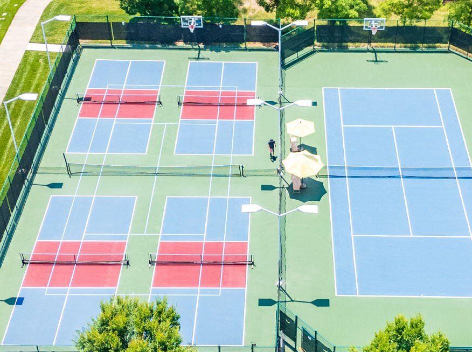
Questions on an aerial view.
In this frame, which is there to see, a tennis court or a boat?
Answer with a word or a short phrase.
tennis court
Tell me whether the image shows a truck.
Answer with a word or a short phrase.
No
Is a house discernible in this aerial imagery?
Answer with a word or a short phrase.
No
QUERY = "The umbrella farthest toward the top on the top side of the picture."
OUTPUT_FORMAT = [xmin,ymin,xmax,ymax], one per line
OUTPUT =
[289,121,317,142]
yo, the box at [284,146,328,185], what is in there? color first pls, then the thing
white umbrella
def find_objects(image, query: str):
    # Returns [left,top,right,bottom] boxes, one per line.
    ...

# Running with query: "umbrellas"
[289,121,317,142]
[284,146,328,185]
